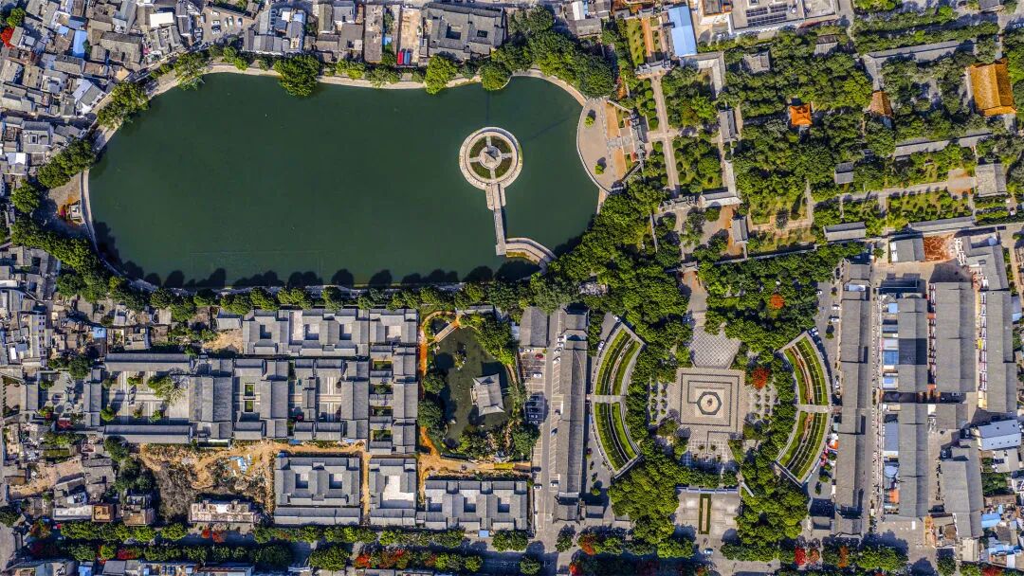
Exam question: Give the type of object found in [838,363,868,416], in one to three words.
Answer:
building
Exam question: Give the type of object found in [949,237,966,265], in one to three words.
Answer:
house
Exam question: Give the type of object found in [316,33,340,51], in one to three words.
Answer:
house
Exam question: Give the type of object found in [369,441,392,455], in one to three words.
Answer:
building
